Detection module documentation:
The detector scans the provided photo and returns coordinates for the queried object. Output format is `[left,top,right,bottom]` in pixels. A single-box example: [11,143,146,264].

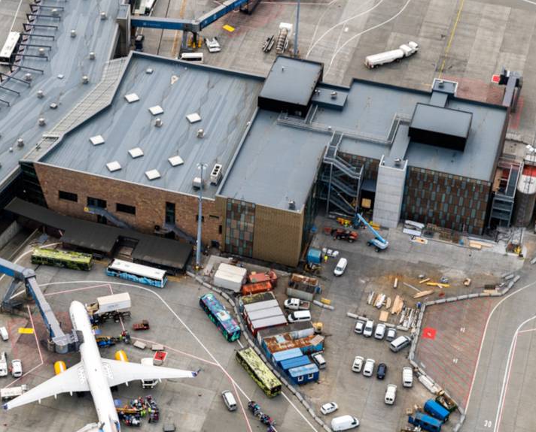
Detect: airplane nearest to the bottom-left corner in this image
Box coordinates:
[5,301,197,432]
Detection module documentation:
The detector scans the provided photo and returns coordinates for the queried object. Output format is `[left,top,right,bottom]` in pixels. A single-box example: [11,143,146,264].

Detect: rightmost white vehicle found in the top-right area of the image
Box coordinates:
[364,46,417,69]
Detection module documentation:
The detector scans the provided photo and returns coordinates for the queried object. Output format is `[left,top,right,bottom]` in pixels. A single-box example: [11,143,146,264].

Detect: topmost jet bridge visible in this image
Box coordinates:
[134,0,263,47]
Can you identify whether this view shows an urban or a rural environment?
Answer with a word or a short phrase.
urban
